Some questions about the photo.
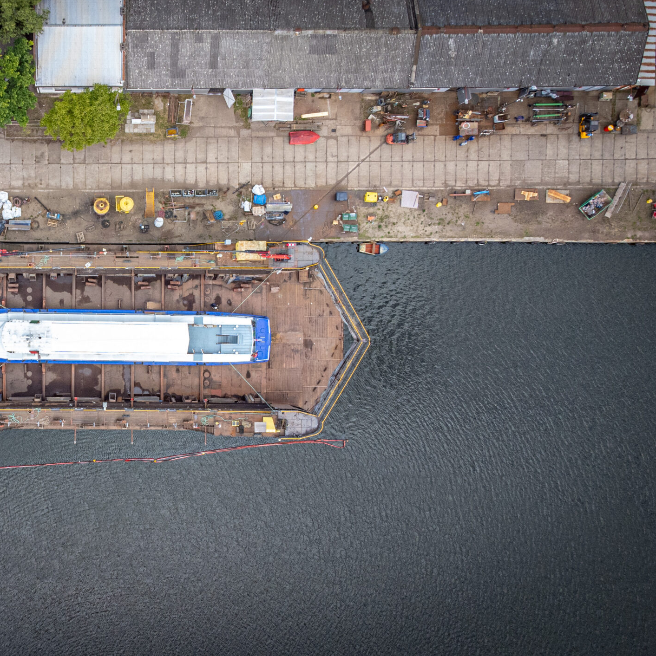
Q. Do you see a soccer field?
No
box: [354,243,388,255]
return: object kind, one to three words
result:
boat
